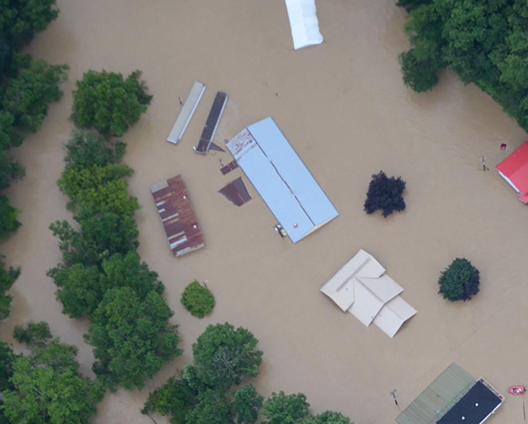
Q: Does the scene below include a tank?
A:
No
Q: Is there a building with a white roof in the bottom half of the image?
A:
Yes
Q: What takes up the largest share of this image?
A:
water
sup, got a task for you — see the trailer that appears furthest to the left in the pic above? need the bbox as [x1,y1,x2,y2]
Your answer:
[167,82,206,146]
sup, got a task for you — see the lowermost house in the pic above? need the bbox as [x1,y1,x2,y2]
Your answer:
[397,363,506,424]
